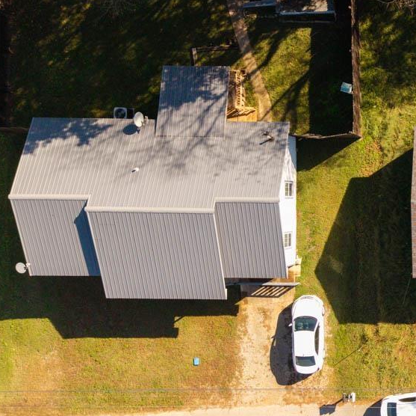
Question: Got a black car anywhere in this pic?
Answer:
No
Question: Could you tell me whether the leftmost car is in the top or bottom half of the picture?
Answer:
bottom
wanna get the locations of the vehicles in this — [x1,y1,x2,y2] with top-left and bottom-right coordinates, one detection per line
[290,292,327,374]
[380,391,416,416]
